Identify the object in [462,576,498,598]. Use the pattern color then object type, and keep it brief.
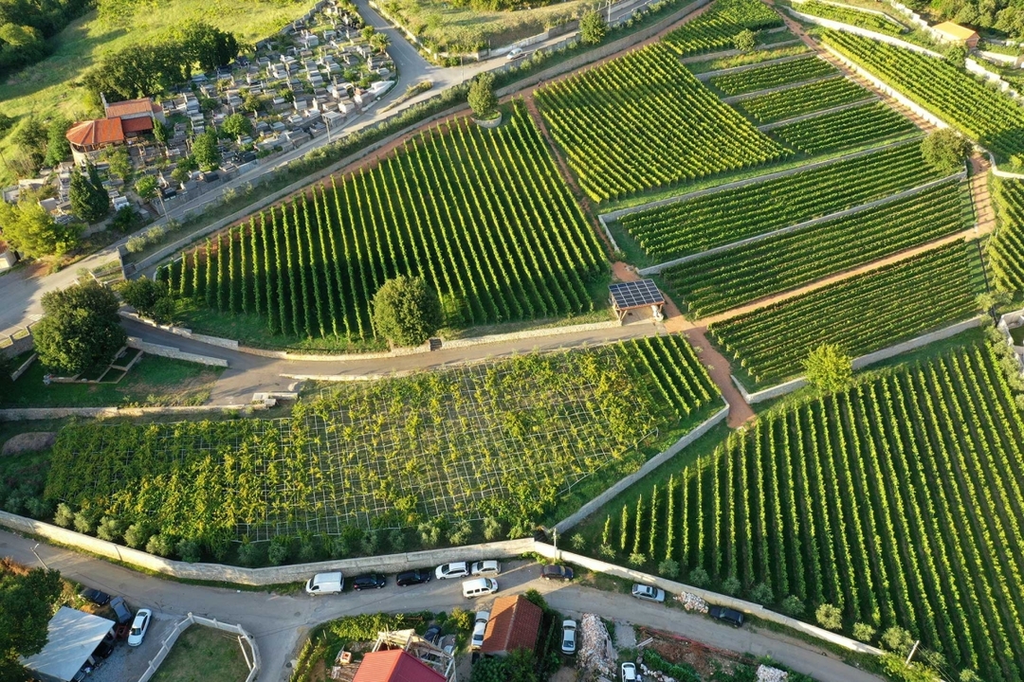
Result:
white vehicle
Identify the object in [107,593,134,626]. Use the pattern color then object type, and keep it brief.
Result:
blue car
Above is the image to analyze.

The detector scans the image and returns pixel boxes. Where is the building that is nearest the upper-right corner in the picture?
[930,19,974,54]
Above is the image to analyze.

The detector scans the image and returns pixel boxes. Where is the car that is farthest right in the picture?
[709,606,744,629]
